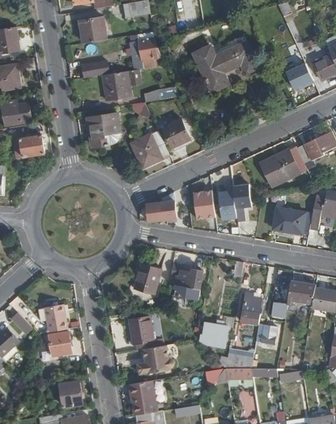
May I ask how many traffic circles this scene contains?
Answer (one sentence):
I count just 1 traffic circle.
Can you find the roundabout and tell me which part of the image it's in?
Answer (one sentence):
You can find the roundabout in the left area of the picture.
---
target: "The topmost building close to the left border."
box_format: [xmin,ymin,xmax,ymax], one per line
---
[0,26,25,60]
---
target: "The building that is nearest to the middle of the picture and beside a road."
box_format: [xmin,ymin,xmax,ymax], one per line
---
[144,200,178,224]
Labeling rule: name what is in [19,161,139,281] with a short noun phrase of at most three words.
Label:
roundabout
